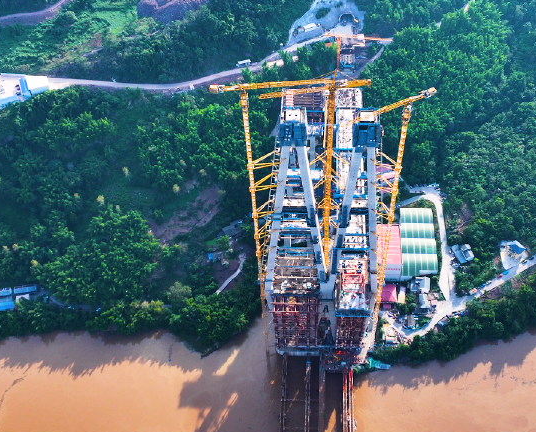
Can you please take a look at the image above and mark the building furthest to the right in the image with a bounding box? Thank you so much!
[504,241,526,267]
